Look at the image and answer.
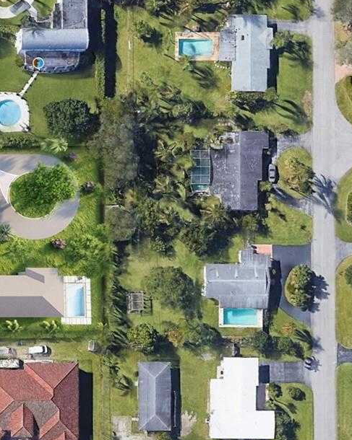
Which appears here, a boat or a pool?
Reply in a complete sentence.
This aerial view contains a pool.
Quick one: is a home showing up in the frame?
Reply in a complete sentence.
Yes, a home appears in the view.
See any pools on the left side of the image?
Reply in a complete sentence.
Yes, there is a pool on the left side of the image.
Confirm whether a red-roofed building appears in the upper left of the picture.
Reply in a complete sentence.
No, no red-roofed building appears in the upper left of the picture.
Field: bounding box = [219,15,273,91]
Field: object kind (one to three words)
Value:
house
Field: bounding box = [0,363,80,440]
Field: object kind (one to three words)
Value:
house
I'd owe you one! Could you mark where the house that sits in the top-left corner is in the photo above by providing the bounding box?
[16,0,90,53]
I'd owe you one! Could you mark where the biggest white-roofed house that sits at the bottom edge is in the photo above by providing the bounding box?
[209,358,275,439]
